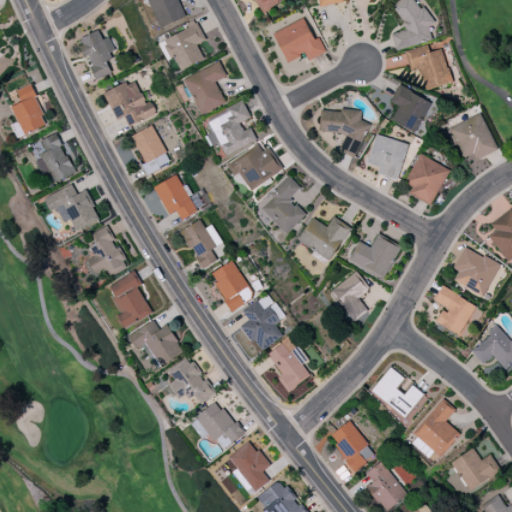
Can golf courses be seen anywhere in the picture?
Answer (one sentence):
Yes, you can see a golf course in this photo.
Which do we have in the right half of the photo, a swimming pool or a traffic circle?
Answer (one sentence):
You can see a swimming pool in the right half of the photo.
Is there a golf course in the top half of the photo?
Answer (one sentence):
Yes, there is a golf course in the top half of the photo.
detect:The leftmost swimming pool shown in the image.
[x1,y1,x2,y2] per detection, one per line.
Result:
[46,214,63,230]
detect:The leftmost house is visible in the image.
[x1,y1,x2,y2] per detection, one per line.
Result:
[10,84,48,138]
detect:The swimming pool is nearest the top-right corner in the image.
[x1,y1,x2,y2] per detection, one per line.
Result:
[354,98,376,121]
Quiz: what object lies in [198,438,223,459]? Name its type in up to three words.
swimming pool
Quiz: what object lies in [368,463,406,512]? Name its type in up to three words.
house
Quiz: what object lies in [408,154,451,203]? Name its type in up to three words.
house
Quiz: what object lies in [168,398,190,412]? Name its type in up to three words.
swimming pool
